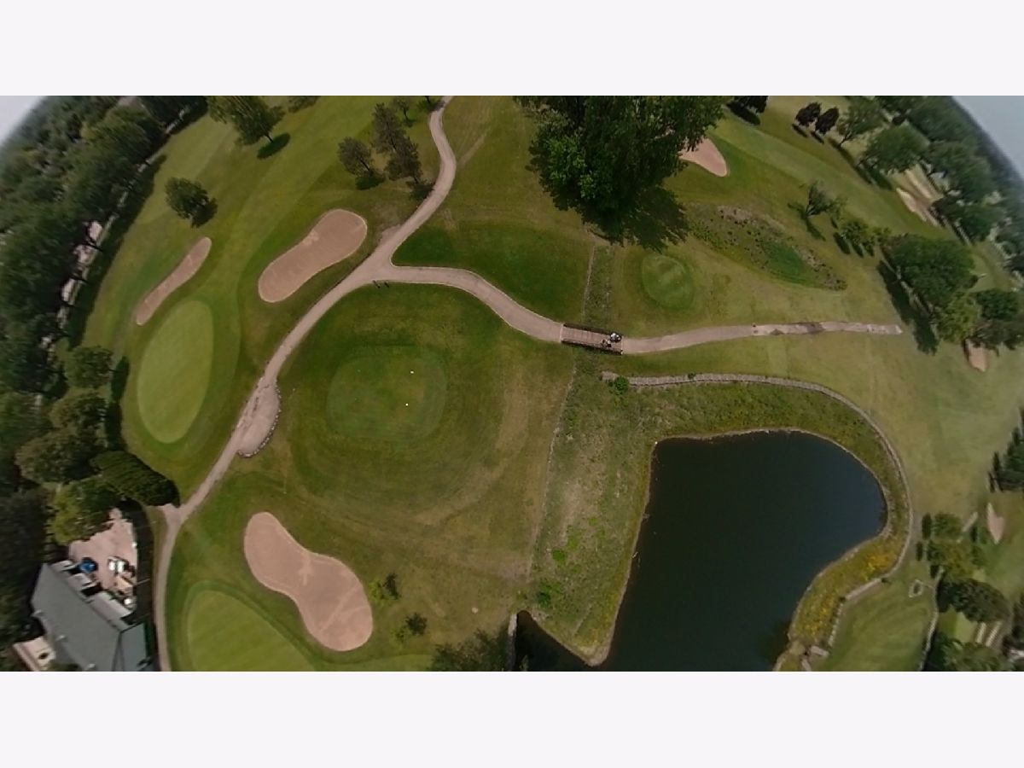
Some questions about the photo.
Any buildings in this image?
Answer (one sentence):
Yes, I can see a building in this picture.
